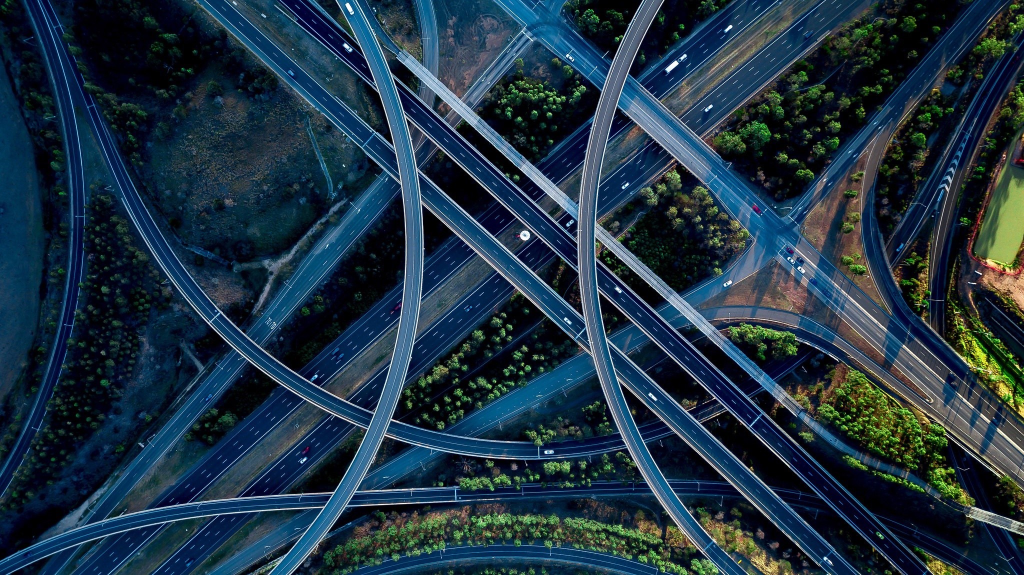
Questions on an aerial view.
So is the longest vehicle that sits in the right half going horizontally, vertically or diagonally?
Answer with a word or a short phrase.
diagonally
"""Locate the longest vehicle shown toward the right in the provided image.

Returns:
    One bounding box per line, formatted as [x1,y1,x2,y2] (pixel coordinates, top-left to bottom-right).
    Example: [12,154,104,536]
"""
[667,50,690,70]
